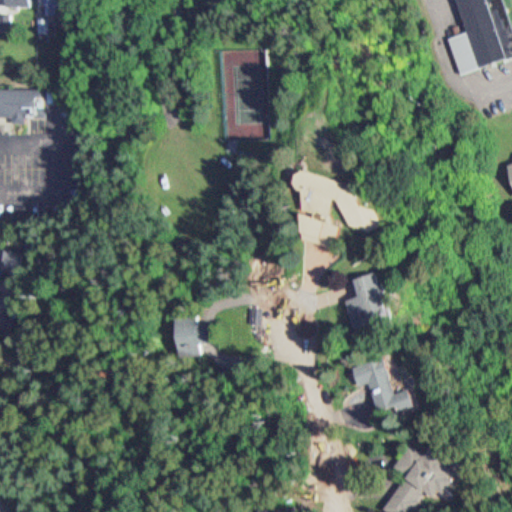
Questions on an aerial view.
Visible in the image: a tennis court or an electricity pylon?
tennis court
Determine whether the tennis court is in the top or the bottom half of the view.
top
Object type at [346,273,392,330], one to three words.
house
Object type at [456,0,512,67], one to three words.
building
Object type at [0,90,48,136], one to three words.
house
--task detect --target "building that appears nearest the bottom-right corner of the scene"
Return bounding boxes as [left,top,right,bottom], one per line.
[383,446,454,512]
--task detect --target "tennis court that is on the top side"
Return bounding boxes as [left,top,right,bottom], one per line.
[222,50,270,138]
